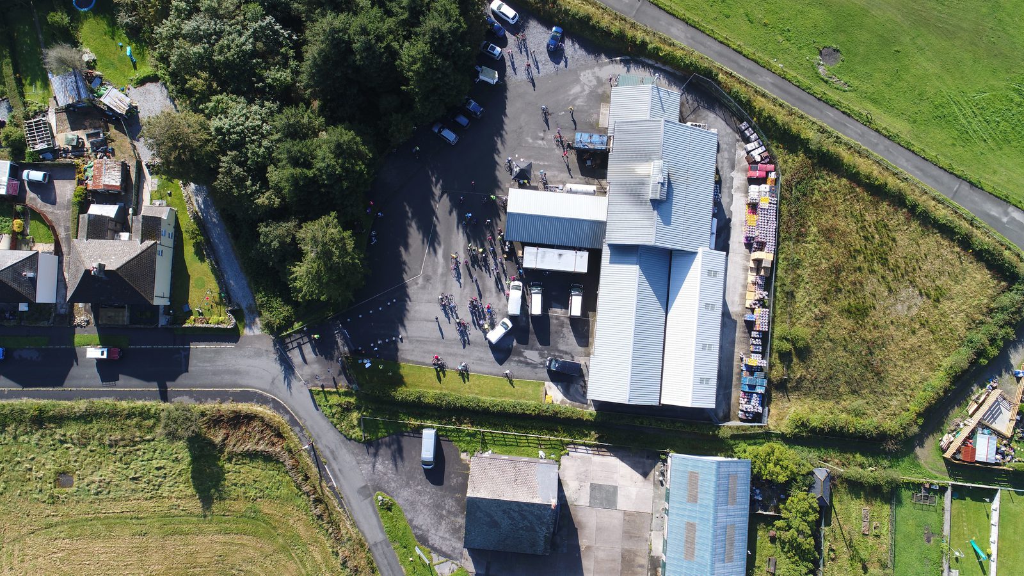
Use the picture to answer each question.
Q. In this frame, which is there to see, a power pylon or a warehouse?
warehouse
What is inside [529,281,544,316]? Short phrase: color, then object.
white vehicle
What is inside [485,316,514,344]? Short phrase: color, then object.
white van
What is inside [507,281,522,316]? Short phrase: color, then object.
white vehicle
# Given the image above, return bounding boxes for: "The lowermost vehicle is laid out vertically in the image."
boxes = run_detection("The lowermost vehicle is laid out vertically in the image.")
[420,428,437,468]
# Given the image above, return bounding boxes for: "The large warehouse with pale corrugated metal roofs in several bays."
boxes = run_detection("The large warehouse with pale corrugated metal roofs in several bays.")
[587,85,726,408]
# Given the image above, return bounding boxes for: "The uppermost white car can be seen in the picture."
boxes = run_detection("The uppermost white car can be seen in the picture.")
[490,0,521,27]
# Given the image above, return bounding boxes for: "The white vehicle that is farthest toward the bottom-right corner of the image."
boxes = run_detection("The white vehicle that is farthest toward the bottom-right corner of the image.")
[569,283,584,318]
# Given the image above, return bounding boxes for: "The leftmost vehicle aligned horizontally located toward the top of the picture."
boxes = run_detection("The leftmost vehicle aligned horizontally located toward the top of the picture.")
[24,168,53,184]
